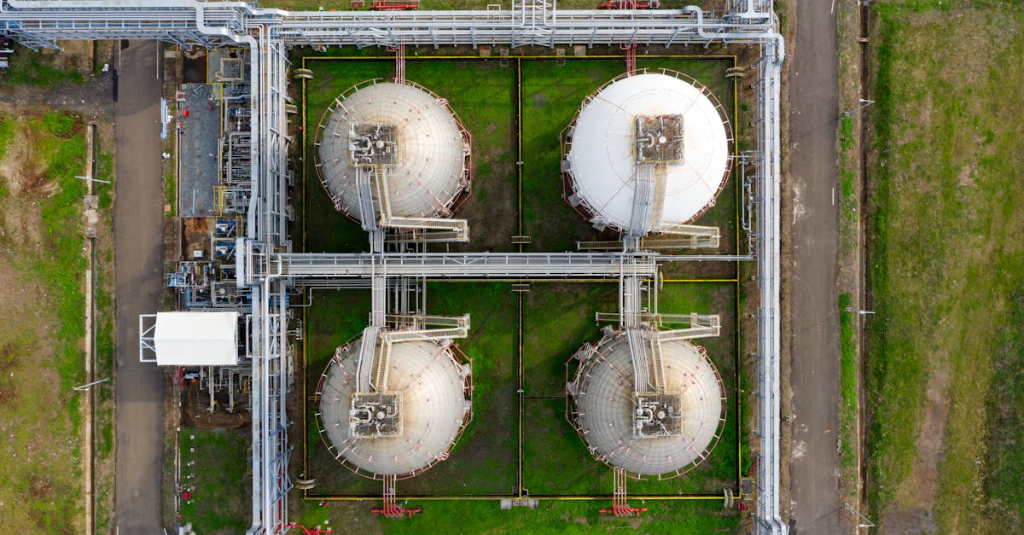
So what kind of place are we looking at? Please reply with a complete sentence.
What you see here is an industrial area.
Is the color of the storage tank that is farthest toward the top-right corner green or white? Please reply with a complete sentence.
The color of the storage tank that is farthest toward the top-right corner is white.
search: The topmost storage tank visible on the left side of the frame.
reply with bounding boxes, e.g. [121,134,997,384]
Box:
[315,77,480,253]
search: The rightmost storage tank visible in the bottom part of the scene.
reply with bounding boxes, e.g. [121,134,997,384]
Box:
[559,279,726,480]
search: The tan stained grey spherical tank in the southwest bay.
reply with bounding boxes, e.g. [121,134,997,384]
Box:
[316,279,481,481]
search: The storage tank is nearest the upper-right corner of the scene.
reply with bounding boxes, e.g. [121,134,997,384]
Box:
[554,69,732,253]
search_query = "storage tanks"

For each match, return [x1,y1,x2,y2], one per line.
[315,77,480,253]
[559,279,726,480]
[554,69,732,253]
[316,279,481,481]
